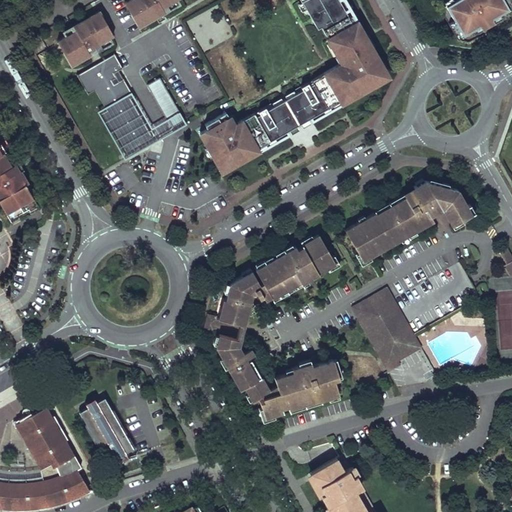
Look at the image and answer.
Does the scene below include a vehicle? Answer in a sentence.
Yes, there's a vehicle here.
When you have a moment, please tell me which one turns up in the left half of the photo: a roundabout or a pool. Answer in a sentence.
What appears in the left half of the photo is a roundabout.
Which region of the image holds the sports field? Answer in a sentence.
Look in the top portion of the view to spot the sports field.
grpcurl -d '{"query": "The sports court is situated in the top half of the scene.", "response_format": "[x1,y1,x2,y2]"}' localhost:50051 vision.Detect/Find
[194,4,233,50]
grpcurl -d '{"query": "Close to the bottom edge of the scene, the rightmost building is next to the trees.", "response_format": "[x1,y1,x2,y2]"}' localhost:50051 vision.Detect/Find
[308,460,374,512]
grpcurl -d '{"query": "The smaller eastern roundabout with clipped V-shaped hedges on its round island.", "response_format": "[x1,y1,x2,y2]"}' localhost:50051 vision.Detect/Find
[410,64,498,152]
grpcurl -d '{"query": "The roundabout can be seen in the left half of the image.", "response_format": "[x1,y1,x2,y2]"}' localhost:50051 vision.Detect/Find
[69,226,190,346]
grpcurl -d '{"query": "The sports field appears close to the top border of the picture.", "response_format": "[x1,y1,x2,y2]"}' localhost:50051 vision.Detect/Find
[242,0,320,94]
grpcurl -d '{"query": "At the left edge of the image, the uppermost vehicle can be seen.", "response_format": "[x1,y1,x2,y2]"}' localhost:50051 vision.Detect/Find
[4,60,28,100]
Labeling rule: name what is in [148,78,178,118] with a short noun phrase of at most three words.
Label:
shed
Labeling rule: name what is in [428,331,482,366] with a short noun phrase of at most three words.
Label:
swimming pool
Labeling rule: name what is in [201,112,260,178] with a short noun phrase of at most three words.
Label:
building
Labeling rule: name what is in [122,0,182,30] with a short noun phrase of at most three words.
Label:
house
